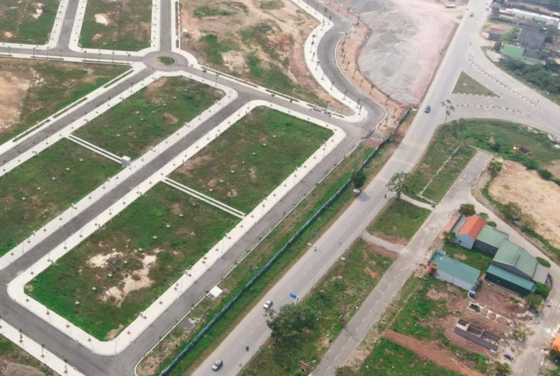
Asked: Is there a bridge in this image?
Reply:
No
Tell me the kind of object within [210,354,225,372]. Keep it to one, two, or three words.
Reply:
car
